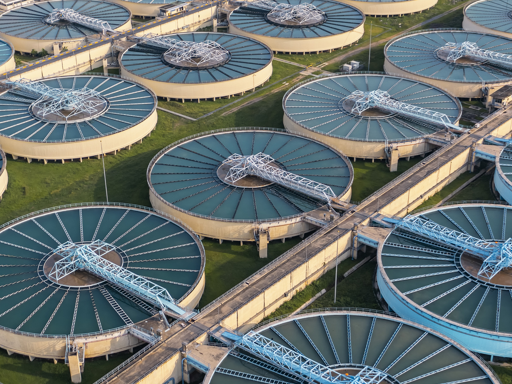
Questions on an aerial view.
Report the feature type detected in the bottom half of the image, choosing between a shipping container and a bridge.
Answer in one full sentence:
It is a bridge that can be seen in the bottom half of the image.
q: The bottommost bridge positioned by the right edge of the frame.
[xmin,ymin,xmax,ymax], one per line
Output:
[380,215,502,261]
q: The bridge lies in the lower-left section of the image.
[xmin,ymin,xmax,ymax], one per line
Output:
[78,246,188,317]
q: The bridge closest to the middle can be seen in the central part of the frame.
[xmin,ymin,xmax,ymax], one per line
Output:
[249,156,350,208]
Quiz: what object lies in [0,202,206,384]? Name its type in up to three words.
water tank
